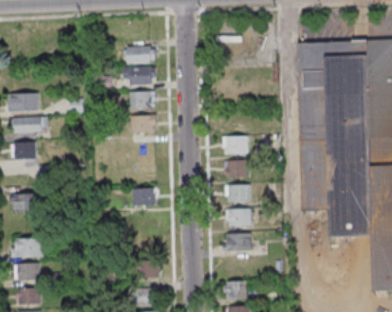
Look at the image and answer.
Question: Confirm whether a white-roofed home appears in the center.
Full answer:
Yes, a white-roofed home is visible in the center.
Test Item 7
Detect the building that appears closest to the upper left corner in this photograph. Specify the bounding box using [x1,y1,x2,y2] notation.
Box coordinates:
[8,93,41,112]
